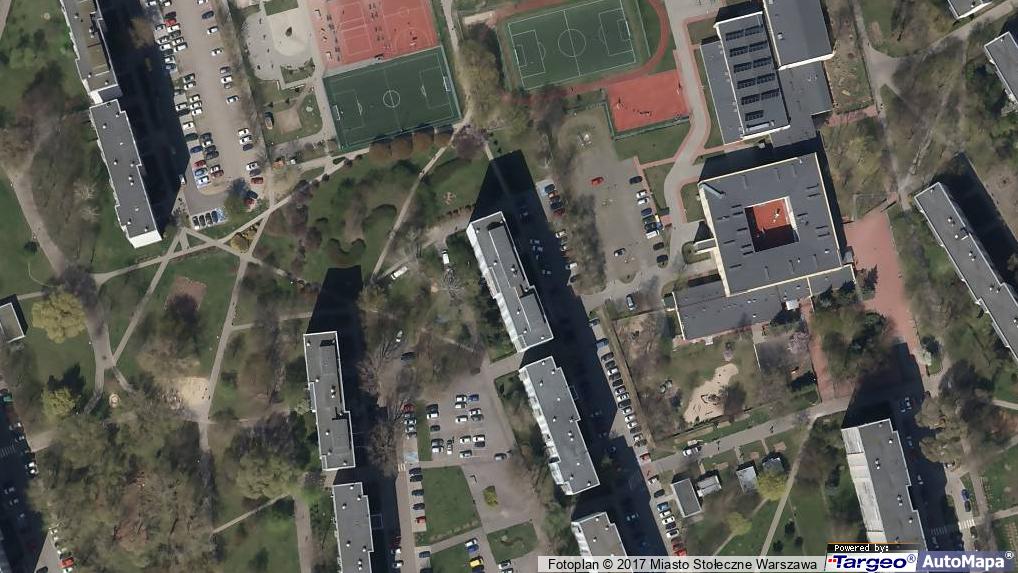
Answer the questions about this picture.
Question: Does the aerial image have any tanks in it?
No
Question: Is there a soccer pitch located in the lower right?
No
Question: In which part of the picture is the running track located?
top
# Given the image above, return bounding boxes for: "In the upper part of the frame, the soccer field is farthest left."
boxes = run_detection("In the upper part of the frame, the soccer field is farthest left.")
[323,47,460,149]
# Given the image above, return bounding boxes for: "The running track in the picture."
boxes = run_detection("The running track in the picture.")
[477,0,669,101]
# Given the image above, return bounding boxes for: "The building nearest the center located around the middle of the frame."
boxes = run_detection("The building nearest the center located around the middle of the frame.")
[462,212,553,353]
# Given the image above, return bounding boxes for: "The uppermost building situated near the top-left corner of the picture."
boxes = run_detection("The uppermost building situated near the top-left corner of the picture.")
[60,0,124,103]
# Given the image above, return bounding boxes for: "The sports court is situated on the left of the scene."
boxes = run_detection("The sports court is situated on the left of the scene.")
[315,0,440,71]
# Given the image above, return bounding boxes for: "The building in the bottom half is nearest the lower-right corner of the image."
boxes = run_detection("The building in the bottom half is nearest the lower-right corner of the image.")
[839,419,934,573]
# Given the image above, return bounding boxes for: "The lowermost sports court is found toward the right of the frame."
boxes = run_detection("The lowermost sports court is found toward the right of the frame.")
[606,70,689,130]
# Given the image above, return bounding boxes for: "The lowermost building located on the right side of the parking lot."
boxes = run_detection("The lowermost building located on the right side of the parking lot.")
[569,512,633,573]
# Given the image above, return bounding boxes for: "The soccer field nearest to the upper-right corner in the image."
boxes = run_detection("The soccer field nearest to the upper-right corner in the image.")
[503,0,642,96]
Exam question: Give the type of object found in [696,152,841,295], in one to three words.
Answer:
building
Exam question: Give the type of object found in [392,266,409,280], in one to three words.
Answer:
vehicle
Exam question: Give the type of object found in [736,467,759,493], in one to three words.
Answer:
shed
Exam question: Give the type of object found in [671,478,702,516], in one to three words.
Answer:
shed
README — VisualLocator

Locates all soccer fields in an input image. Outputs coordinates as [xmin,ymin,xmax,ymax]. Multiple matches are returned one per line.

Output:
[323,47,460,149]
[503,0,642,96]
